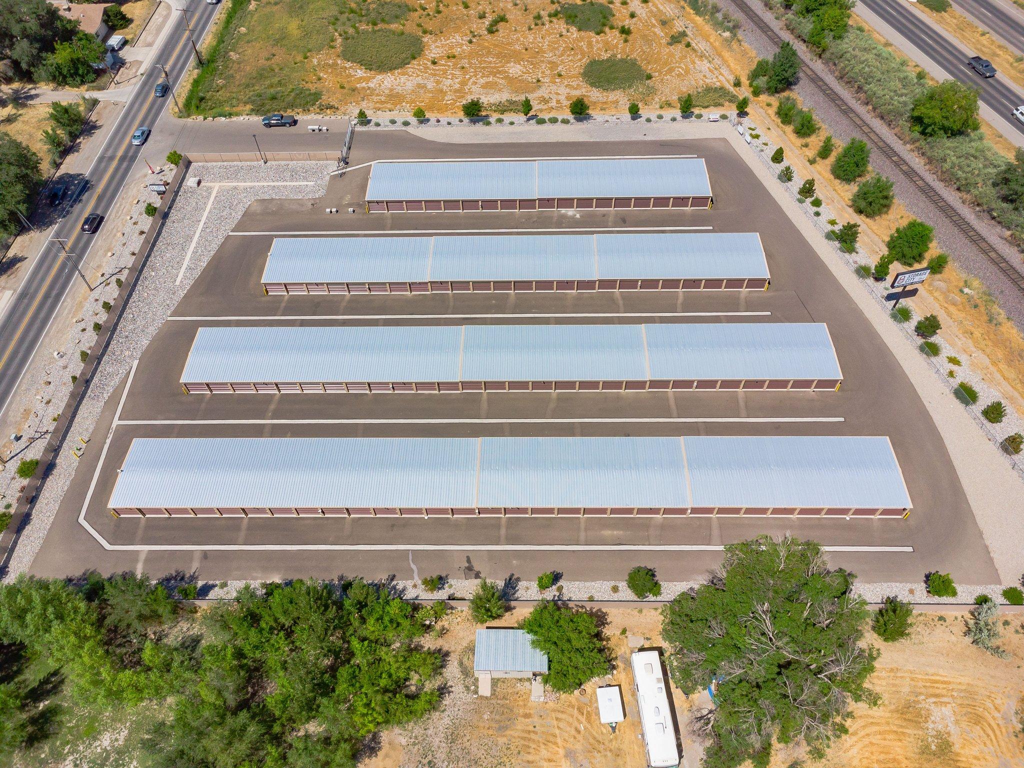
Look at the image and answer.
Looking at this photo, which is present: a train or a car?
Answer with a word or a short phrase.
car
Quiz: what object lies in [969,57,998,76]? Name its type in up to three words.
vehicle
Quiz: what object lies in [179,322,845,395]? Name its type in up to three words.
building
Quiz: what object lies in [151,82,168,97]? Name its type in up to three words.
car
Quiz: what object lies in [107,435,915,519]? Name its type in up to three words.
building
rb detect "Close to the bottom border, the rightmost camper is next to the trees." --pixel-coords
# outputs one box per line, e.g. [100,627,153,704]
[631,652,678,768]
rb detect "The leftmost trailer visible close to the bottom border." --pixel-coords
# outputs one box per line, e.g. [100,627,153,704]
[597,686,623,741]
